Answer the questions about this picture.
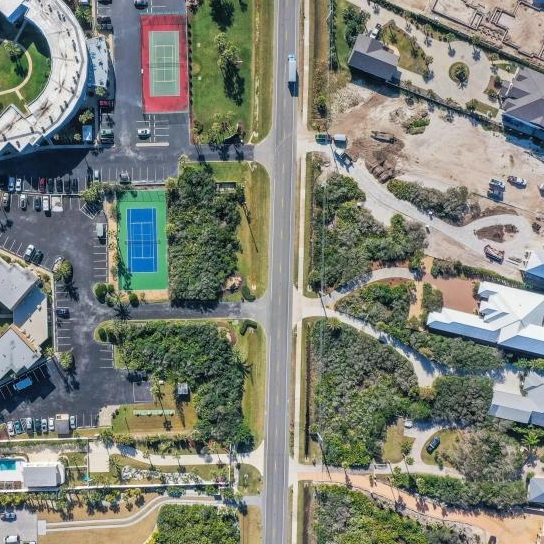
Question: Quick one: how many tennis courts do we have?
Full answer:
Altogether the scene contains 2 tennis courts.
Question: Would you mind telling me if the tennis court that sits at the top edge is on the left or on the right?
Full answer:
The tennis court that sits at the top edge is on the left side of the image.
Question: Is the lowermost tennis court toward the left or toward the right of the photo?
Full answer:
The lowermost tennis court is on the left side of the image.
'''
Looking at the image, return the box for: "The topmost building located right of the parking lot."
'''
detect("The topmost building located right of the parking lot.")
[347,34,402,87]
